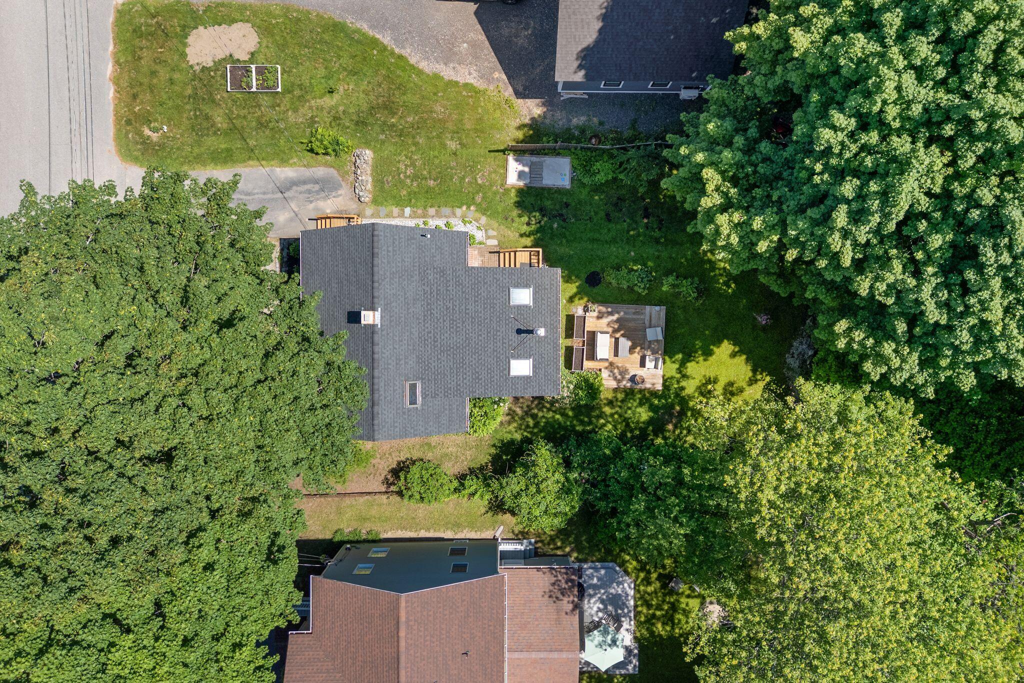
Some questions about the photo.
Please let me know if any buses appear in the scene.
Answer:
No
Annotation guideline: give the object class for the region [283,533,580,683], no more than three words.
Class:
house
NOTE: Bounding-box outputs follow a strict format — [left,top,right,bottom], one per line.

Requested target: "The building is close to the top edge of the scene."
[555,0,749,94]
